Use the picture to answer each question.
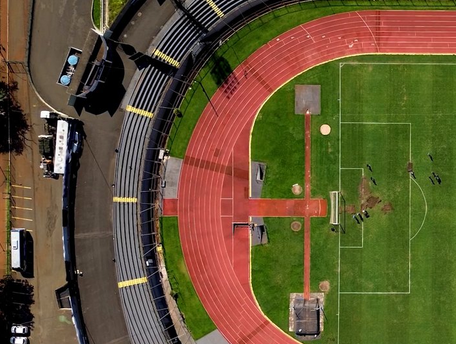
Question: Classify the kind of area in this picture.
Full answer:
The picture captures a sports ground.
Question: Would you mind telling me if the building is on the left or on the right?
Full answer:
You can find the building on the left side of the picture.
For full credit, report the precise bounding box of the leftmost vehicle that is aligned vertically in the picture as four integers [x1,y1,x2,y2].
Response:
[11,226,29,270]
